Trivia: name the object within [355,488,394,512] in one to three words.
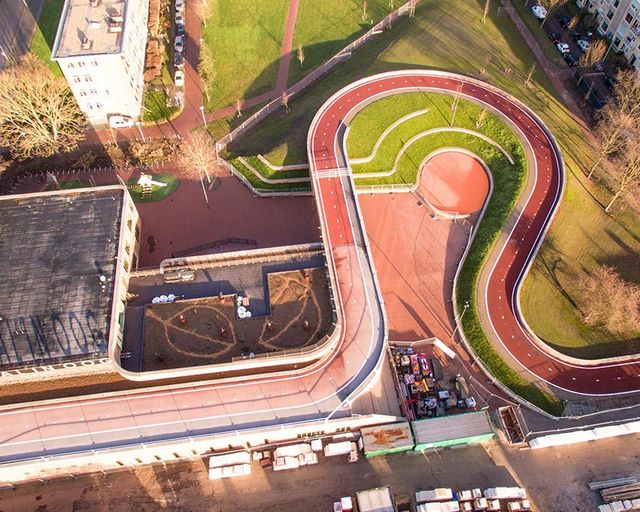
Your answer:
trailer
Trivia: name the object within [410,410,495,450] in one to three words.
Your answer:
shed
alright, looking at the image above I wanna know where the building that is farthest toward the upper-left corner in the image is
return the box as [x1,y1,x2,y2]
[51,0,149,123]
